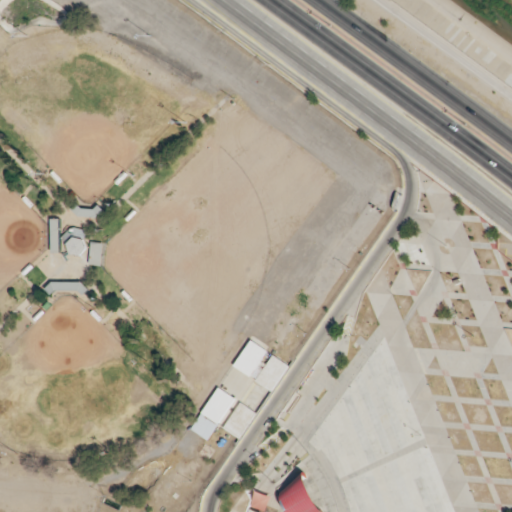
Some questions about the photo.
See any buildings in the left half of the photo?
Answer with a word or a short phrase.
Yes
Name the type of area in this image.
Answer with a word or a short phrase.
sports ground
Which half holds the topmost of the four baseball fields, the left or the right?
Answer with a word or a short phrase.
left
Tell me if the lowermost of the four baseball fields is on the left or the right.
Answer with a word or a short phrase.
left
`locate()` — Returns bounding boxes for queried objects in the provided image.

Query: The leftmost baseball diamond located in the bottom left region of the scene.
[0,295,162,454]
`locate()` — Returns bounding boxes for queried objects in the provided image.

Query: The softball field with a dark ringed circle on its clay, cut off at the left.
[0,188,46,287]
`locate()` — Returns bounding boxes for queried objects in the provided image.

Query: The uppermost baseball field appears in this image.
[0,32,190,206]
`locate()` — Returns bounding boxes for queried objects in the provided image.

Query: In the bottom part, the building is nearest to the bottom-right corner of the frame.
[280,472,328,512]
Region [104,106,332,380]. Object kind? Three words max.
baseball field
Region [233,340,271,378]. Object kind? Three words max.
building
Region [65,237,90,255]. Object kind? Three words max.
building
